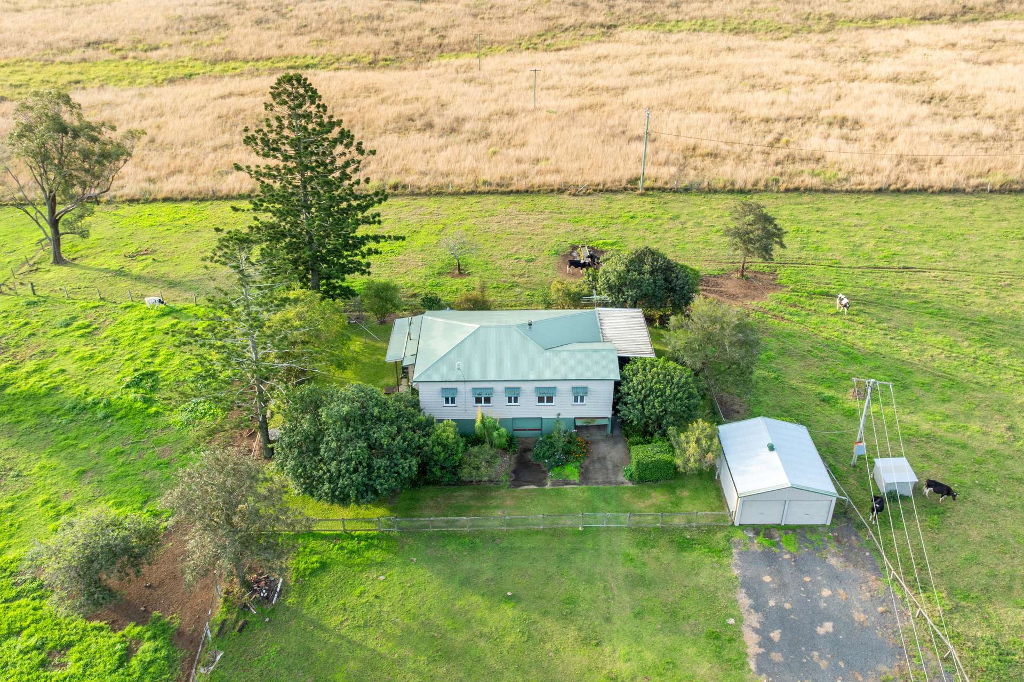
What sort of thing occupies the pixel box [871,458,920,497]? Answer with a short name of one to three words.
shed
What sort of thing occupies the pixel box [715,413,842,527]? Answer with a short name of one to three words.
building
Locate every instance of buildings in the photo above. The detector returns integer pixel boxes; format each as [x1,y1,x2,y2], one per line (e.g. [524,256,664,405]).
[384,286,656,437]
[871,458,920,497]
[715,413,842,527]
